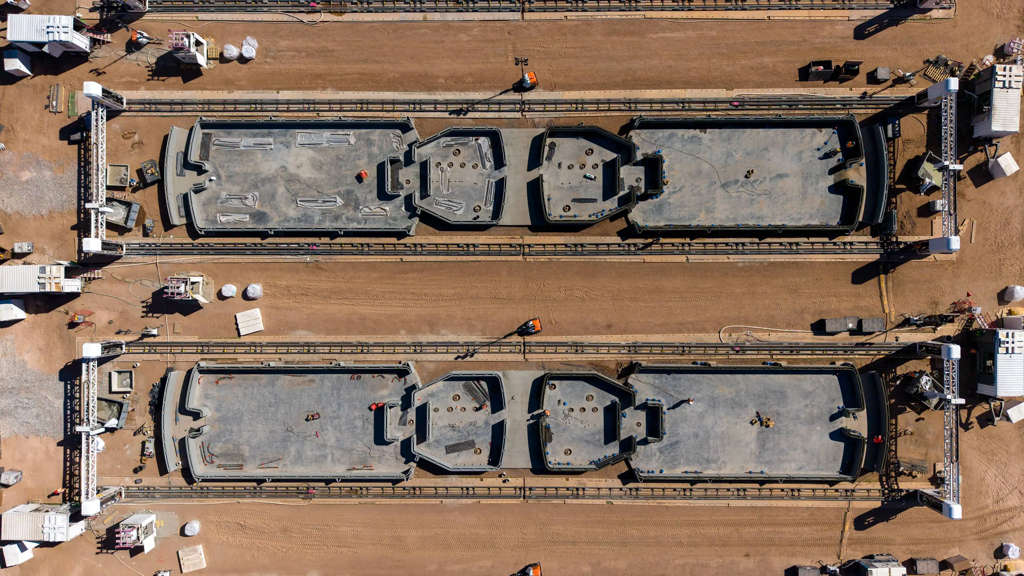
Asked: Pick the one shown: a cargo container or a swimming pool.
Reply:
cargo container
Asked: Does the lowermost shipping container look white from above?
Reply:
Yes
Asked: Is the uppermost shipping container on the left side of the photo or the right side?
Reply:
left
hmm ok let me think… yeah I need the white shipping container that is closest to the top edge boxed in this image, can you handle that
[8,14,89,59]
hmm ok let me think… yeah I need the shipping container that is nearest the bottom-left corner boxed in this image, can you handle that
[3,505,85,541]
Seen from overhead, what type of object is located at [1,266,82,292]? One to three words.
shipping container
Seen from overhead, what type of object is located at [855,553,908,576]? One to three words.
truck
